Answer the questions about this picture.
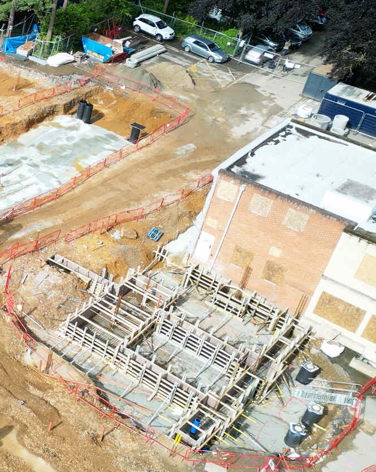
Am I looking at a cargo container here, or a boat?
cargo container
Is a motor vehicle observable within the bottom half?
No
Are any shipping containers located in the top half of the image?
Yes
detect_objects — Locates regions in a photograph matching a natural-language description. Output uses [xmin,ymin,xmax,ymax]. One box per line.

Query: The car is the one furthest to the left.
[132,13,179,41]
